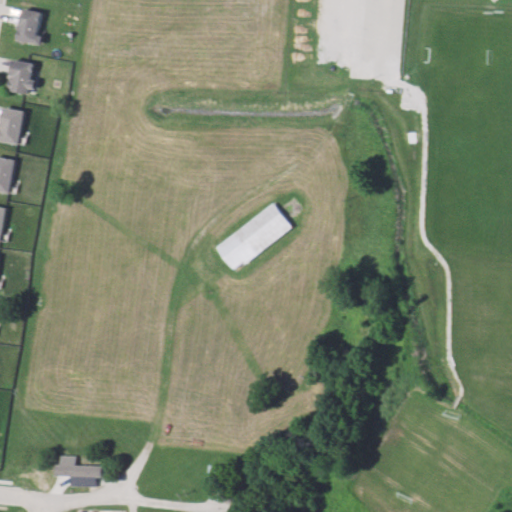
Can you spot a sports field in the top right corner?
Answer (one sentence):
Yes, a sports field shows up in the top right corner.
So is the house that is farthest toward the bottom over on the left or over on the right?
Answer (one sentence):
The house that is farthest toward the bottom is on the left side of the image.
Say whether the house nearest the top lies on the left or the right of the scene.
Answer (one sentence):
The house nearest the top appears in the left half of the scene.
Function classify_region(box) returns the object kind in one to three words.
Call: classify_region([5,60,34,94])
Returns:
house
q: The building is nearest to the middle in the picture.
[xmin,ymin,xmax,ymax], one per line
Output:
[216,202,293,271]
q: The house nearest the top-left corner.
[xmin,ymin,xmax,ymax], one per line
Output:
[13,8,42,44]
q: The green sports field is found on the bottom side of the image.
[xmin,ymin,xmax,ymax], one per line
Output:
[357,390,512,512]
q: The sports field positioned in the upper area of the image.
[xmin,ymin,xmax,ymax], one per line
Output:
[428,27,491,85]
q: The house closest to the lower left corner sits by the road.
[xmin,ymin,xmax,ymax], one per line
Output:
[53,455,101,488]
